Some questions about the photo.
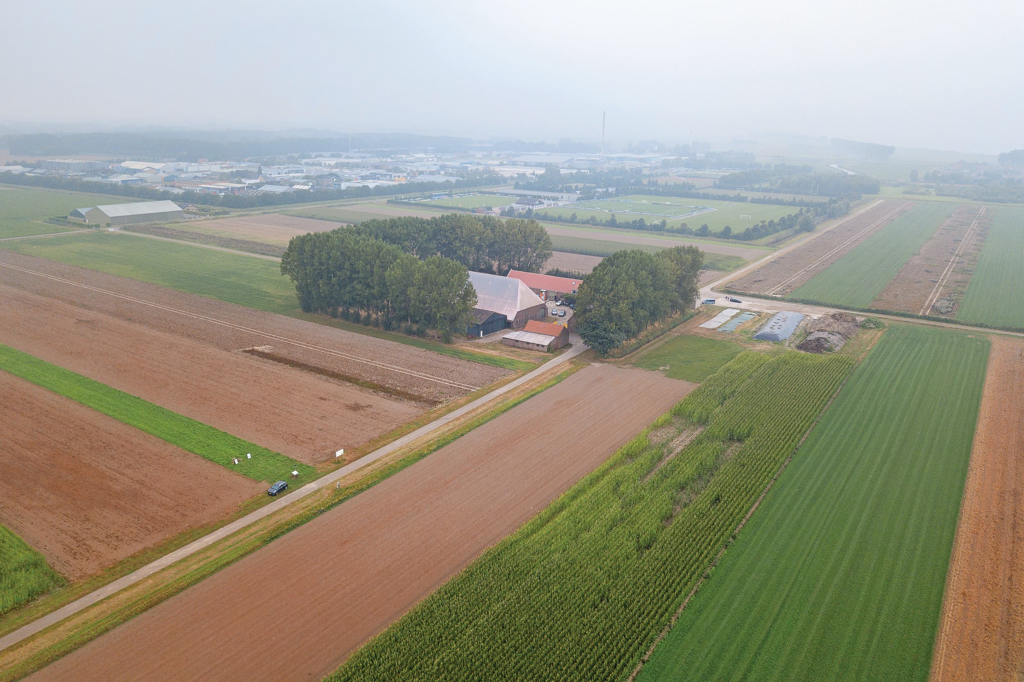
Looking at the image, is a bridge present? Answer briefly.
No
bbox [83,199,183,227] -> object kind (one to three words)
barn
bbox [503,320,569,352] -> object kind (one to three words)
shed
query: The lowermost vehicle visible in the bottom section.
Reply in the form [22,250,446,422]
[267,480,290,495]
